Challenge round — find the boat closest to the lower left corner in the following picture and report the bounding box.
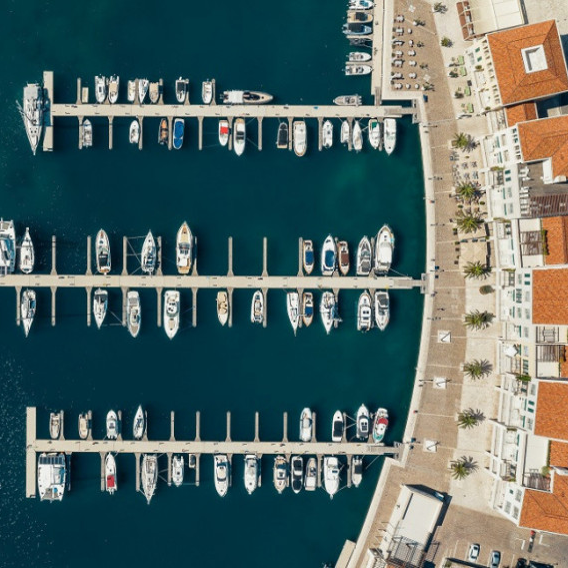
[38,452,65,507]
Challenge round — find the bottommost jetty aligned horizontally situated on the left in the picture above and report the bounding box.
[26,406,384,498]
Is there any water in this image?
Yes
